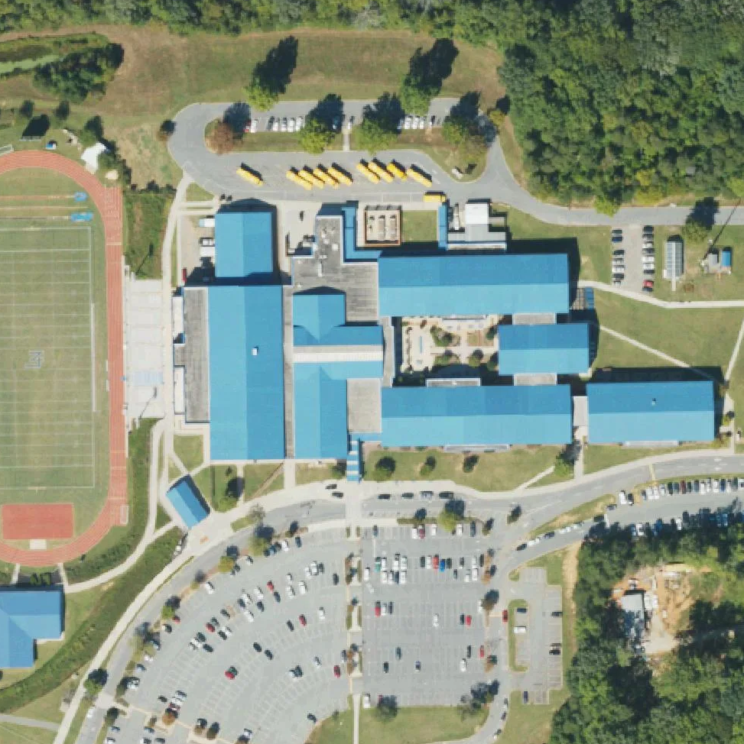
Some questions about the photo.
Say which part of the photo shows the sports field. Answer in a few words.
left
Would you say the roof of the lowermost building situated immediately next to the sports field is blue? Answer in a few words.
Yes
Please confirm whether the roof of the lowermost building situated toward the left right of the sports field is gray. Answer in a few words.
No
